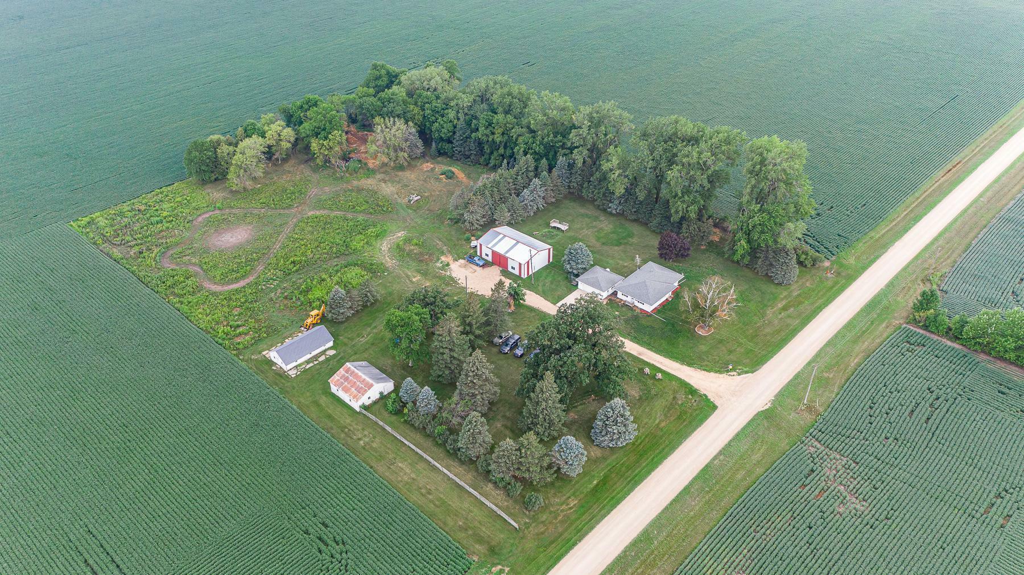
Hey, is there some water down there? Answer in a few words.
No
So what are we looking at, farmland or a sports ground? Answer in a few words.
farmland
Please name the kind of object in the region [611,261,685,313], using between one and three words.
house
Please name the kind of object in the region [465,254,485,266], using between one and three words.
vehicle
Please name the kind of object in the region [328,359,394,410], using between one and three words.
shed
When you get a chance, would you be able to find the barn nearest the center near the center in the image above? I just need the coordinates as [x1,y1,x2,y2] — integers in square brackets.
[475,225,554,278]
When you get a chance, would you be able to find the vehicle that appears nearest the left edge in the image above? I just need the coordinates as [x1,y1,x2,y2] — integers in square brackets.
[297,304,325,332]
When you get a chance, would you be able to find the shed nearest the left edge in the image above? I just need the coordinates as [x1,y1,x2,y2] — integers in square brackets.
[267,326,334,370]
